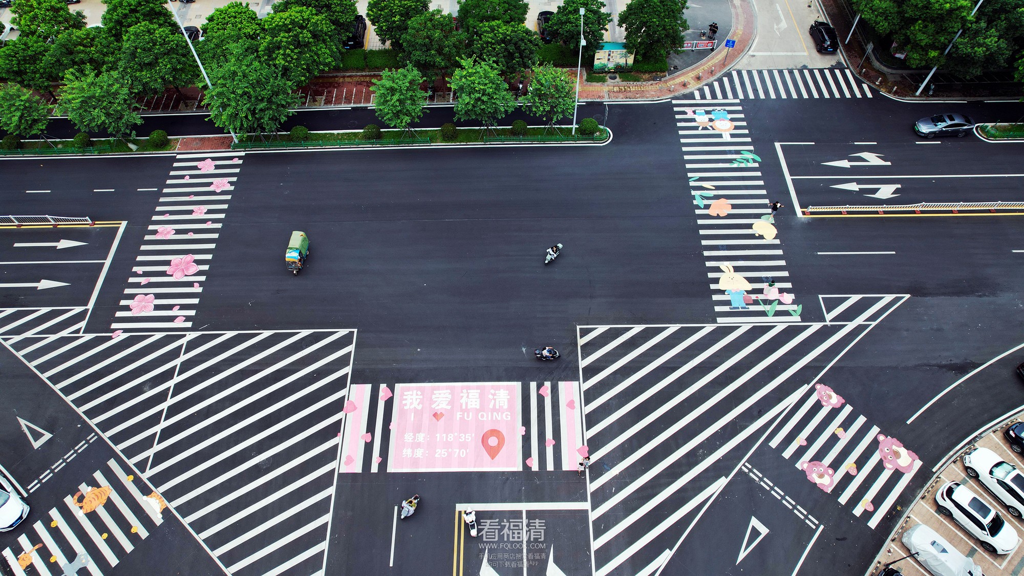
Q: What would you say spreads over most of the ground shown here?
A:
paved ground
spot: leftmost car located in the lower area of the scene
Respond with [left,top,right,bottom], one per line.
[0,476,24,527]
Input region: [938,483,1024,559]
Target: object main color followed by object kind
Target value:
white car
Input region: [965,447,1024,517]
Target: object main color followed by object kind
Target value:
white car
